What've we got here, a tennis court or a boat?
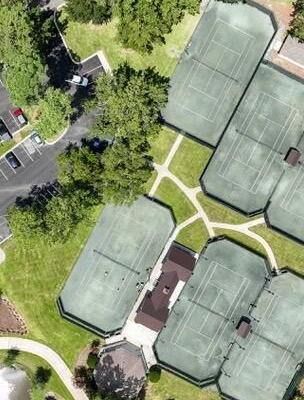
tennis court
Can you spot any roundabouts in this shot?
No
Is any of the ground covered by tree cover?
Yes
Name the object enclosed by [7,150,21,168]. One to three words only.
vehicle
